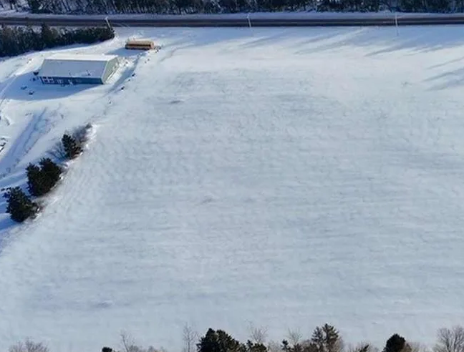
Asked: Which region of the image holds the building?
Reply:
top left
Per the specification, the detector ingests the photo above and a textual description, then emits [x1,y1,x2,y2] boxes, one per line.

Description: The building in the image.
[38,56,119,85]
